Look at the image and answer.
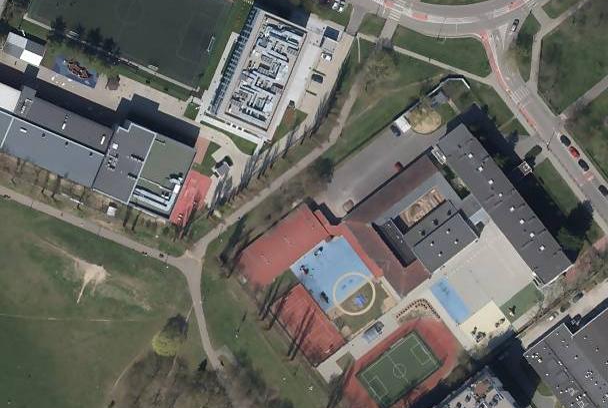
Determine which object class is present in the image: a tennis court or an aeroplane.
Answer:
tennis court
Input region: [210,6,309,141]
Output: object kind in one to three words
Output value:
building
